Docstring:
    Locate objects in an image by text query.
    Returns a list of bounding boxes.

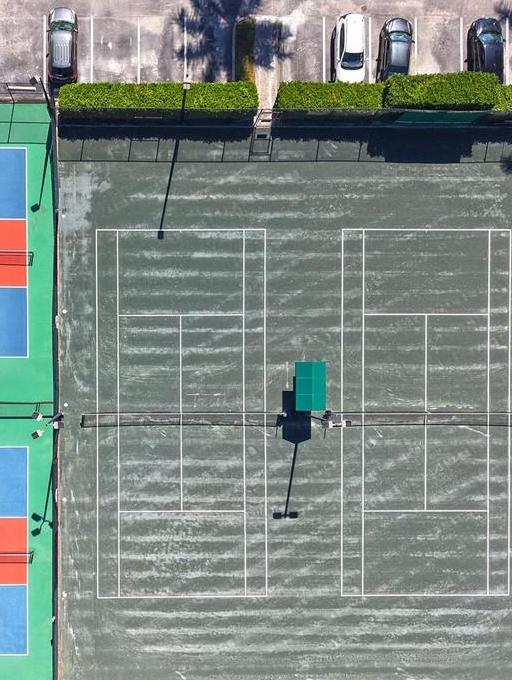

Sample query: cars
[330,13,368,85]
[466,17,507,88]
[377,19,415,82]
[45,8,81,87]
